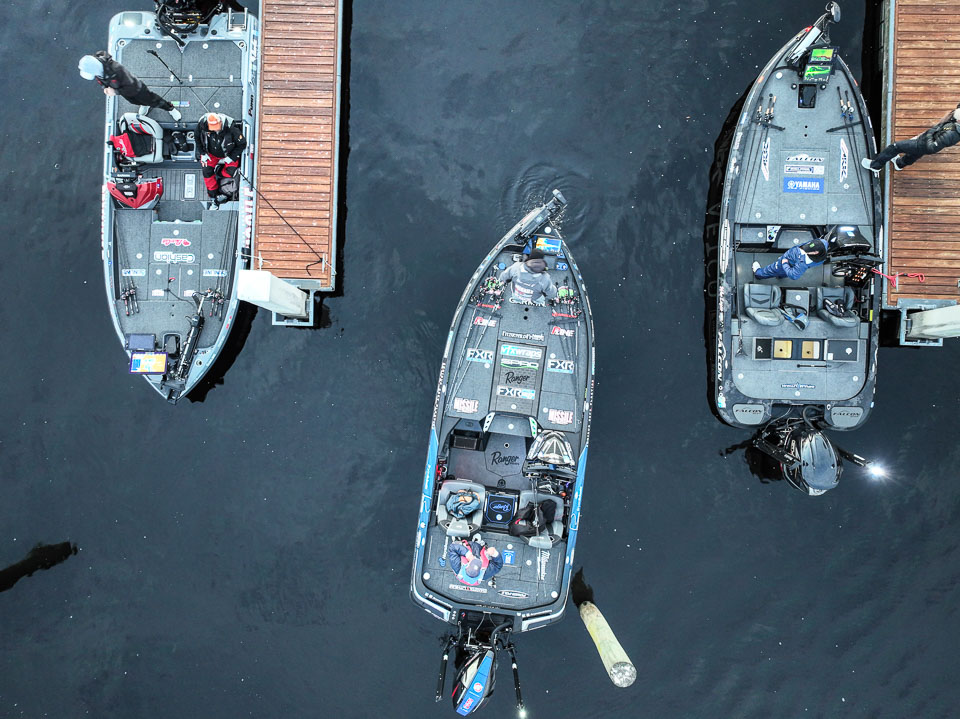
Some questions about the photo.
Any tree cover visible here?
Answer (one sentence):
No, there's no tree cover in this view.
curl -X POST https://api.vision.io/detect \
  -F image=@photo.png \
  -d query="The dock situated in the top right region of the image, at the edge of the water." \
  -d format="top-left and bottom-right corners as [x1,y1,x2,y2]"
[877,0,960,346]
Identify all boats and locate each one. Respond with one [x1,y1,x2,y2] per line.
[712,1,883,496]
[99,0,255,407]
[410,188,596,716]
